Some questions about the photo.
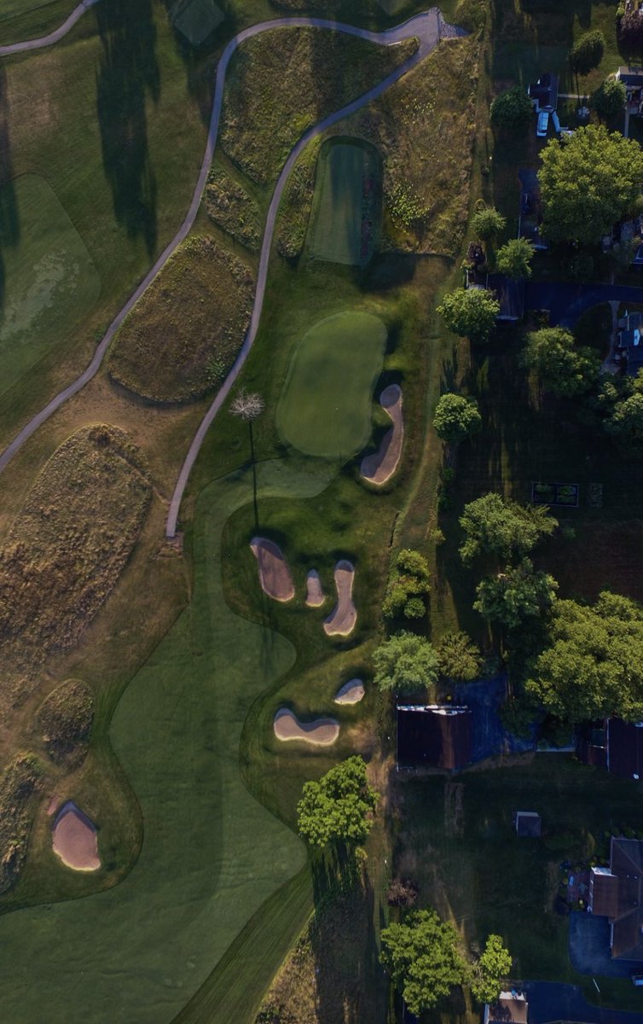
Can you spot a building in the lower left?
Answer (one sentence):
No, there's no building to be seen in the lower left.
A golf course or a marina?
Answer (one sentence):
What you see here is a golf course.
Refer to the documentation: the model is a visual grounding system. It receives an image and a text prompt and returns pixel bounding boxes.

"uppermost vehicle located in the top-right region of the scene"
[537,109,551,135]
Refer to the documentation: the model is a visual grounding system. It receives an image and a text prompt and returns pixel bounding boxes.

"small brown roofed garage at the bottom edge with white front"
[484,991,529,1024]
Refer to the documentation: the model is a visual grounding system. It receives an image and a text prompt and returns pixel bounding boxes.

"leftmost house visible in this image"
[396,705,472,775]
